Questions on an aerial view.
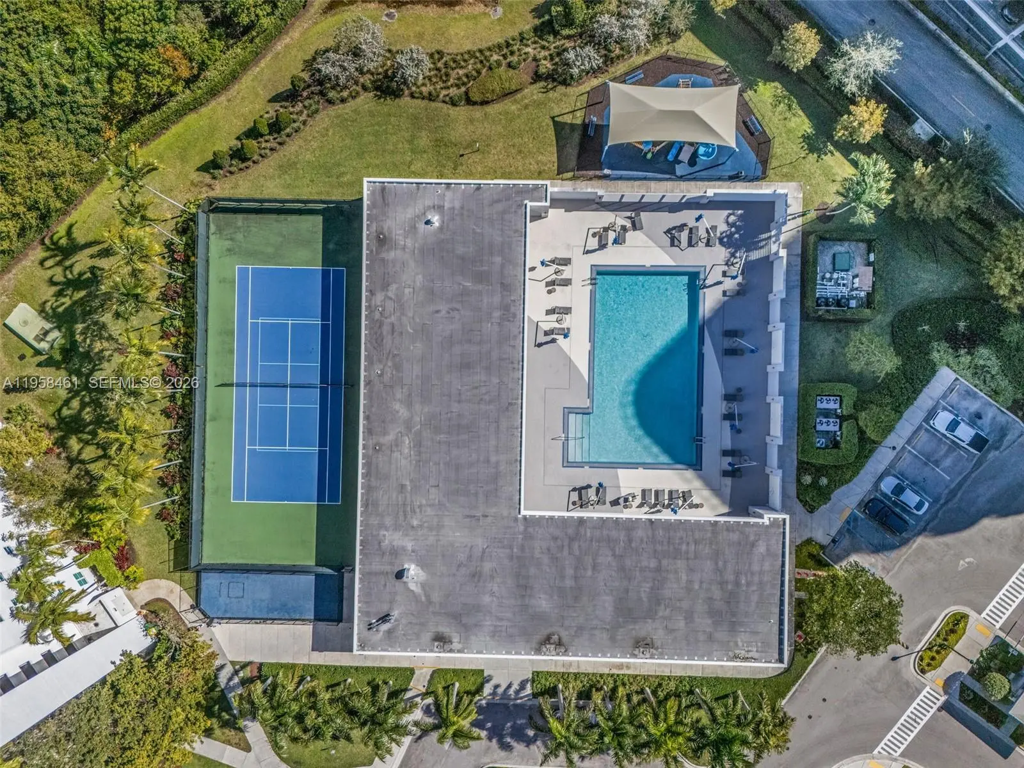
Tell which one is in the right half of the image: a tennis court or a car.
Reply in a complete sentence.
What appears in the right half of the image is a car.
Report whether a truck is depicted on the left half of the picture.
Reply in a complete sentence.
No, the scene shows no truck on the left half of the picture.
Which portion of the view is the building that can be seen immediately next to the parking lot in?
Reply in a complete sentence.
Look in the center portion of the view to spot the building that can be seen immediately next to the parking lot.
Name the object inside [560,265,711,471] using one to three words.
swimming pool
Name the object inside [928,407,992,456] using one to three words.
truck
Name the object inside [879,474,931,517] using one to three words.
car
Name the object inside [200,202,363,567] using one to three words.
tennis court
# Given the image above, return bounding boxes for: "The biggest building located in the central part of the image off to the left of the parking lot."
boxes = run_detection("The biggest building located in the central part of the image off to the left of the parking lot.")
[353,179,789,667]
